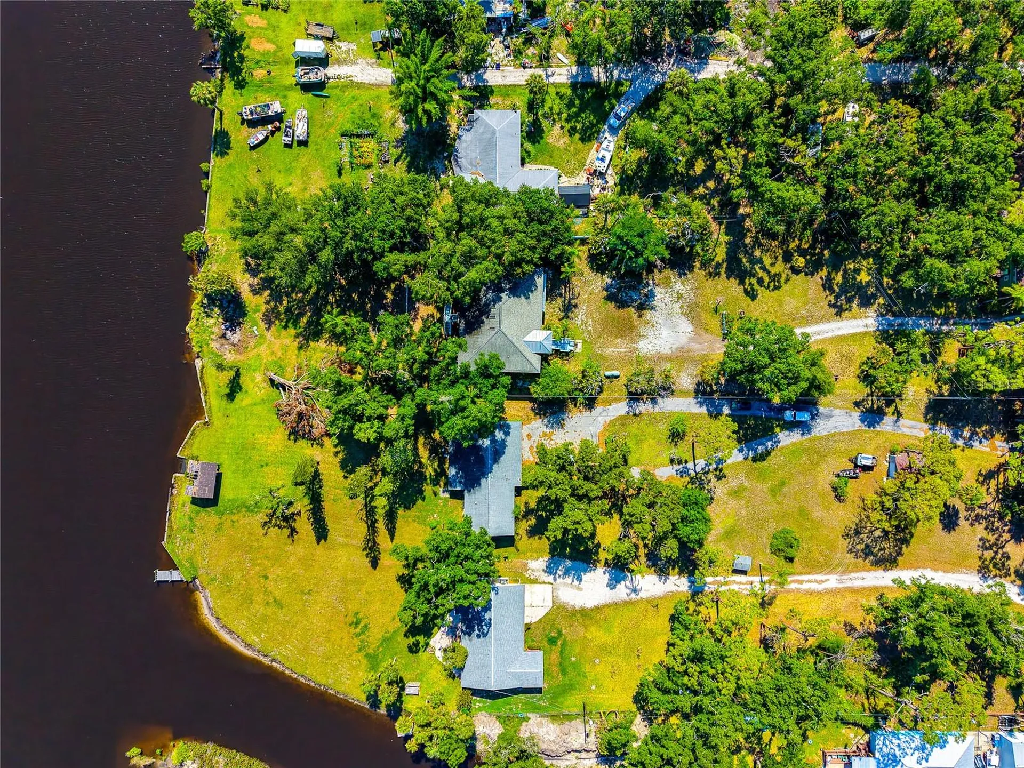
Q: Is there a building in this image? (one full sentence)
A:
Yes, there's a building here.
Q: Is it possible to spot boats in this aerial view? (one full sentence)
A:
Yes, there's a boat down there.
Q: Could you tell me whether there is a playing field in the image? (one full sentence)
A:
No, the picture doesn't show any playing field.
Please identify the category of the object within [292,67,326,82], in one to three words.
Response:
boat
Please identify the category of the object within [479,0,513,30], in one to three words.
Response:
house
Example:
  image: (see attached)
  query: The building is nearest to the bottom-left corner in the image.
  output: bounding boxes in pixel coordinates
[185,460,223,498]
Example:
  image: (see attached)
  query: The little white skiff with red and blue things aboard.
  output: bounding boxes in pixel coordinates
[247,130,267,147]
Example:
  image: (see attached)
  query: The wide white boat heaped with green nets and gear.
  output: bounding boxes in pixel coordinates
[237,100,281,119]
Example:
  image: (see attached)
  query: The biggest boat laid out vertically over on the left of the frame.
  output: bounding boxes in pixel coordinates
[294,108,306,143]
